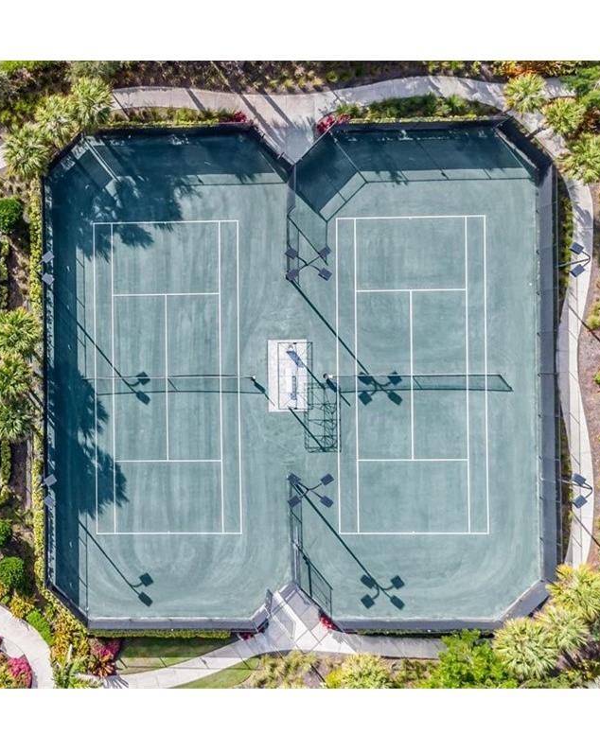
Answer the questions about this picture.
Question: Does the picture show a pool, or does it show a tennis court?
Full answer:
The one in the frame is a tennis court.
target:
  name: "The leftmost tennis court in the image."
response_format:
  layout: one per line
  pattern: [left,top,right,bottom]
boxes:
[50,136,293,619]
